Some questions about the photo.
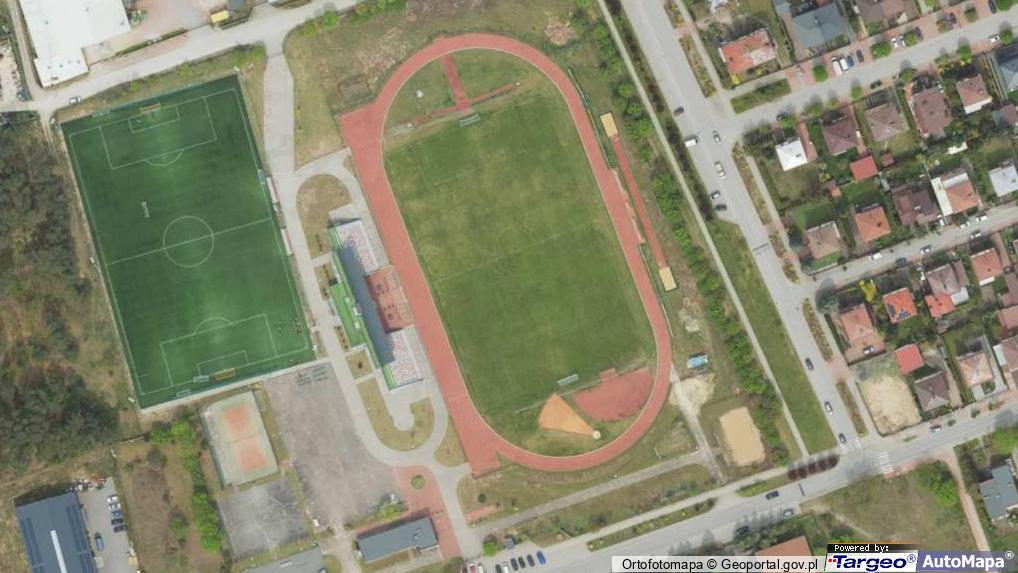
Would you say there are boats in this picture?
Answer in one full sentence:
No, the frame has no boat in it.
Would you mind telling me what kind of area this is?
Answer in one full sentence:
This looks like a sports ground.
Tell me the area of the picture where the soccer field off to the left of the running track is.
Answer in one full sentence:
The soccer field off to the left of the running track is in the left part of the image.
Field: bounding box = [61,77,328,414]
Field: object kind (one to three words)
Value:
soccer field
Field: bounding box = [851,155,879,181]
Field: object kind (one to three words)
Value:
shed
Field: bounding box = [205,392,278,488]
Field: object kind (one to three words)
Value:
tennis court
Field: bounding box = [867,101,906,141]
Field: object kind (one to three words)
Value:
house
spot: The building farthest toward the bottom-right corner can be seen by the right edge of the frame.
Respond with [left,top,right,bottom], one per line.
[980,466,1018,517]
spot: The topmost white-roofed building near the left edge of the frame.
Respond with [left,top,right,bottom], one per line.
[25,0,134,86]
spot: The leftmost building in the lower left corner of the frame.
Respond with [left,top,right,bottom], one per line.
[12,492,96,573]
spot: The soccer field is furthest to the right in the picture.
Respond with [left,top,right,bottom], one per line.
[384,87,650,412]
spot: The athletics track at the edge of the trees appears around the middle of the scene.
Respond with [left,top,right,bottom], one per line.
[342,34,669,474]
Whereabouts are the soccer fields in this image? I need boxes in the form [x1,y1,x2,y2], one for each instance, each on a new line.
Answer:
[384,87,650,412]
[61,77,328,414]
